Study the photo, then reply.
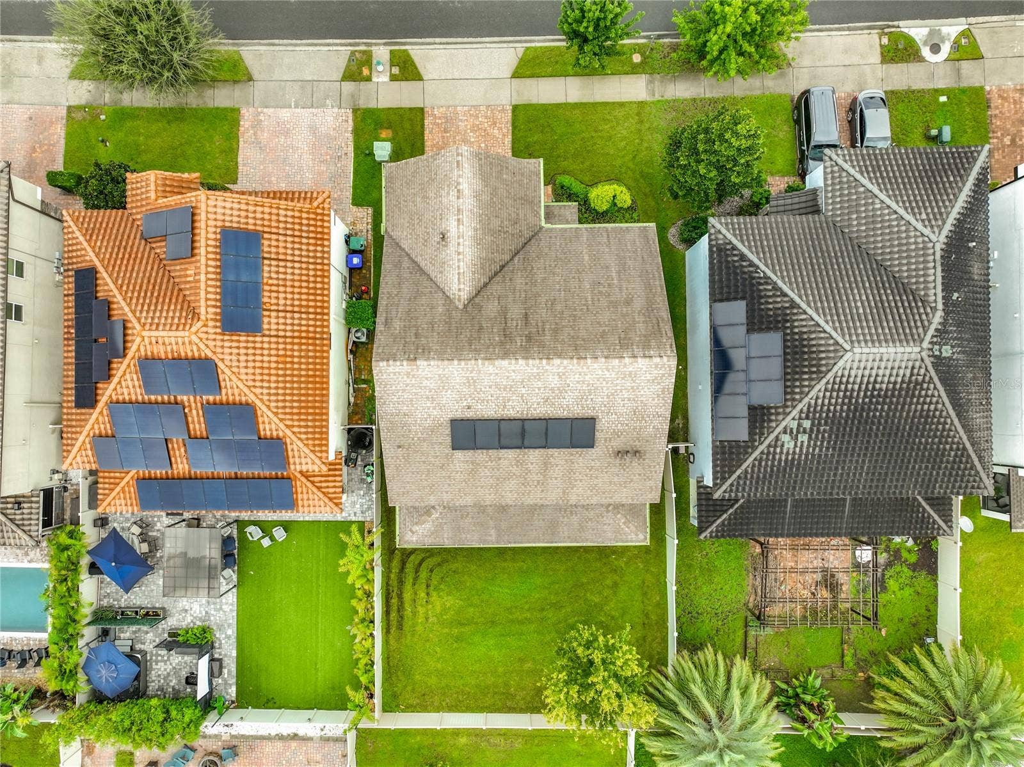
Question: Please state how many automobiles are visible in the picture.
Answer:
2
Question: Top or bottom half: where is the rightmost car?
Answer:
top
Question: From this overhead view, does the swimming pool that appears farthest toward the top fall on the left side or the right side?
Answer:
left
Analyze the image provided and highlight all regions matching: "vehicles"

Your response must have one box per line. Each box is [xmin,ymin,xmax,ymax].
[791,85,839,182]
[849,85,897,146]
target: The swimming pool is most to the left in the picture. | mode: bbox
[0,563,51,638]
